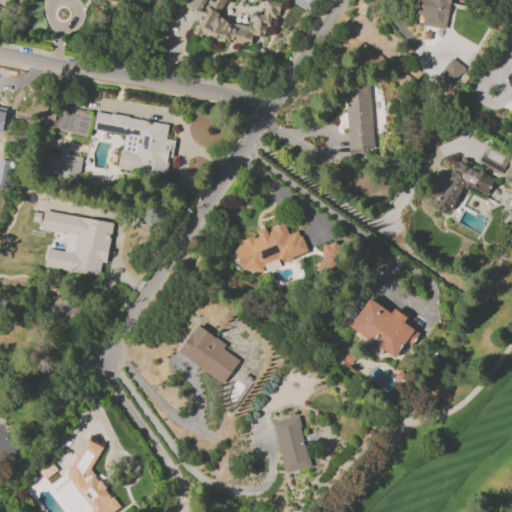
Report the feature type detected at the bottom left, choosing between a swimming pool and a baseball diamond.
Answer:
swimming pool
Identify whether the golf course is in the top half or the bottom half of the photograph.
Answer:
bottom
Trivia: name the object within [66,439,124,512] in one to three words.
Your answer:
house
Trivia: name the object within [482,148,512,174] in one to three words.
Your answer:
building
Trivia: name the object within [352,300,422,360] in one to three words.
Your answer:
house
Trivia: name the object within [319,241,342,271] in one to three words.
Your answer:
building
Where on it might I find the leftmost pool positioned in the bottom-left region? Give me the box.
[39,490,64,512]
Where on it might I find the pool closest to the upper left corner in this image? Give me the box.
[94,142,111,168]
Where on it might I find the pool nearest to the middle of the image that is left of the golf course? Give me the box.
[275,268,294,282]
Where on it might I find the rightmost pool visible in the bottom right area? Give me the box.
[372,368,395,389]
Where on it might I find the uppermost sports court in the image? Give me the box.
[58,110,92,136]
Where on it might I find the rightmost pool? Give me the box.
[460,210,488,234]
